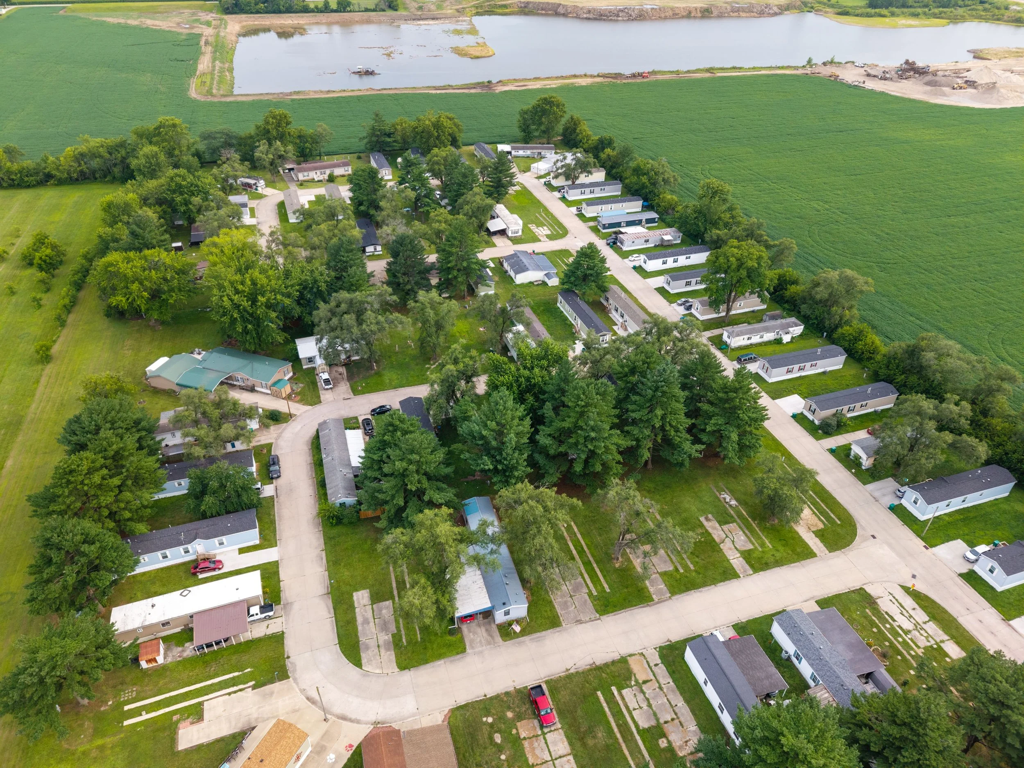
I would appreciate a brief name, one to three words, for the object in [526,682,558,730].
truck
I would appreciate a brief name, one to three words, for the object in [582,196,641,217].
house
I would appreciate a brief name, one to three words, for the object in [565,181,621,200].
house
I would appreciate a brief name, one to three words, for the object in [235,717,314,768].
shed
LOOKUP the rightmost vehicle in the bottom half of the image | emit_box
[964,540,991,566]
